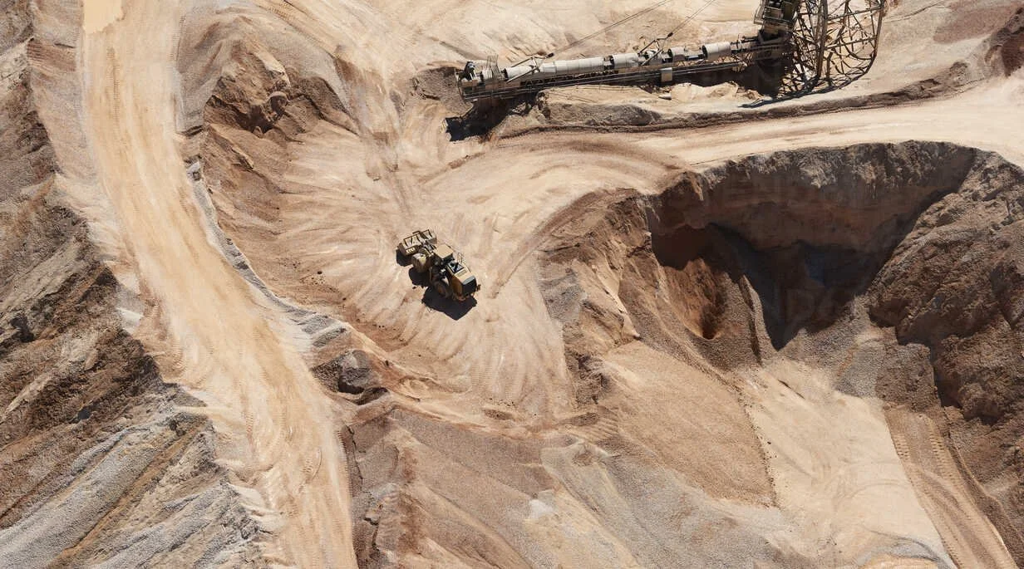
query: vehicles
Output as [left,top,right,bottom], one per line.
[397,220,482,301]
[468,0,886,104]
